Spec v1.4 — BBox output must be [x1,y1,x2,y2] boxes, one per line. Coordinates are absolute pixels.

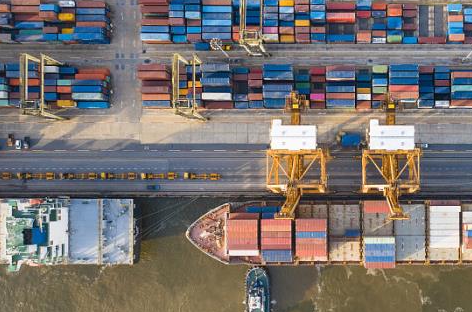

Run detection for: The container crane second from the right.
[265,84,335,222]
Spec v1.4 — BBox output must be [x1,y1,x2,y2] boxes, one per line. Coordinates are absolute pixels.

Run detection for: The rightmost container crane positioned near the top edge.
[241,0,273,57]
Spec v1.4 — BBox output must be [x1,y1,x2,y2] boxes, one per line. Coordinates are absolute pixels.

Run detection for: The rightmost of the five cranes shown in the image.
[352,84,425,222]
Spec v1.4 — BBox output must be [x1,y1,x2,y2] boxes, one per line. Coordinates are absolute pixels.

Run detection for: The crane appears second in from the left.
[172,52,209,122]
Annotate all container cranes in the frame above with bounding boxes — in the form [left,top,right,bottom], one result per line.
[14,53,66,121]
[172,52,209,122]
[241,0,273,57]
[352,84,425,222]
[265,84,335,222]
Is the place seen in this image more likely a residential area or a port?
port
